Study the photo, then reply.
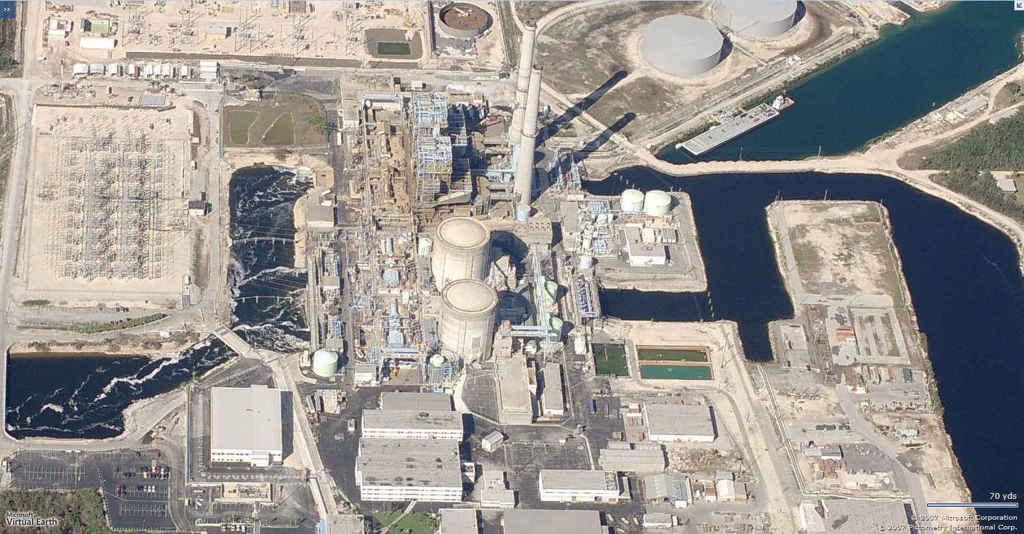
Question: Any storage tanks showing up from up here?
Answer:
Yes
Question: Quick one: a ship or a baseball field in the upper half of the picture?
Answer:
ship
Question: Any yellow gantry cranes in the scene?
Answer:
No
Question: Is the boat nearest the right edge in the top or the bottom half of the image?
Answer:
top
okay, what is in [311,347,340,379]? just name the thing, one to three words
water tank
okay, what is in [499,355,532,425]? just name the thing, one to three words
building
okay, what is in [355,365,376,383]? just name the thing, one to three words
house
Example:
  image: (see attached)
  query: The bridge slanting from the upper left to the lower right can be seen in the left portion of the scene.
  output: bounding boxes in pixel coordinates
[214,323,262,358]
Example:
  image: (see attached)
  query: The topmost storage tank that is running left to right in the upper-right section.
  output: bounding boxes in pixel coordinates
[715,0,796,37]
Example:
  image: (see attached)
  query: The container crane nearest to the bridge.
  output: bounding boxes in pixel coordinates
[381,346,426,384]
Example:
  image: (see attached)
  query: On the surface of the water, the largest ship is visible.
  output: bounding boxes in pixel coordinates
[682,102,779,156]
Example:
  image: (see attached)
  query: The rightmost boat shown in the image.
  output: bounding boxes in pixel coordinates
[774,90,796,110]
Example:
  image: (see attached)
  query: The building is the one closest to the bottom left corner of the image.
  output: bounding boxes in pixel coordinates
[210,388,283,467]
